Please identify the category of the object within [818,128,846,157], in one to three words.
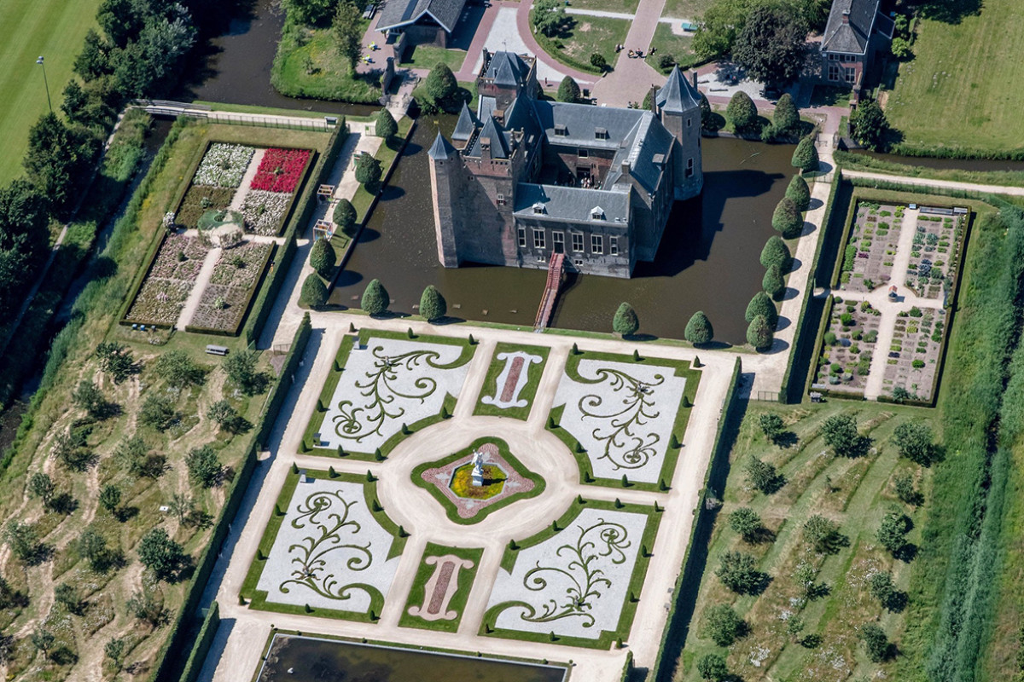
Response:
bridge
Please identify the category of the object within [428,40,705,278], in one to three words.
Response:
building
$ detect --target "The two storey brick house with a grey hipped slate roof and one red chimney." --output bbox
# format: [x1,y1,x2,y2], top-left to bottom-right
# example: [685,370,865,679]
[819,0,900,88]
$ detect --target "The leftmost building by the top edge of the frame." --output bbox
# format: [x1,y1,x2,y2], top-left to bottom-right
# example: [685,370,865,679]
[381,0,466,49]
